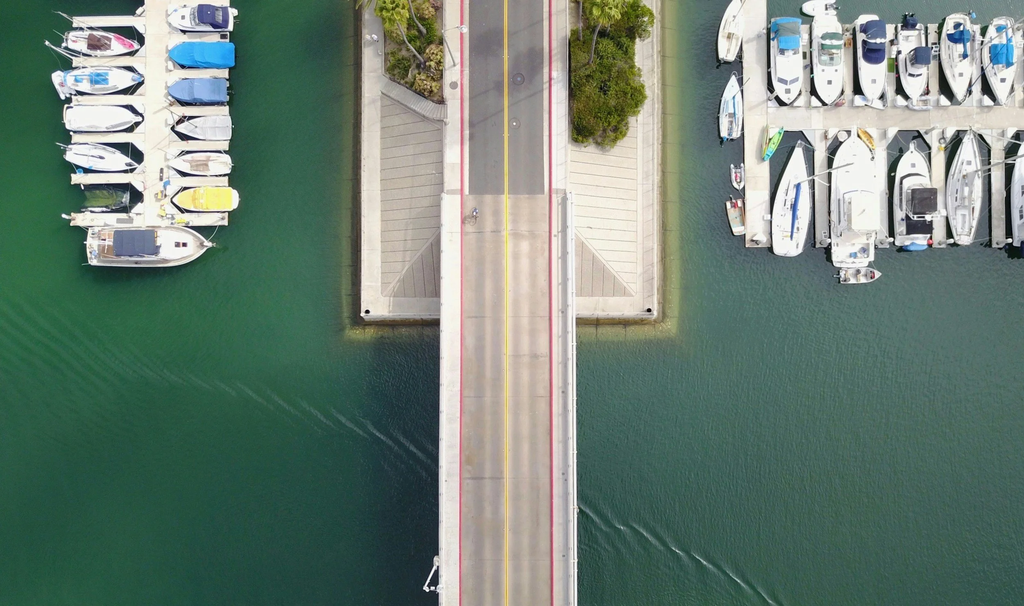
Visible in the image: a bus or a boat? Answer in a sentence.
The image shows a boat.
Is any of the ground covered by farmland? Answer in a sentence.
No, farmland can't be seen anywhere here.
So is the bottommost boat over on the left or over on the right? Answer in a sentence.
The bottommost boat appears in the right half of the scene.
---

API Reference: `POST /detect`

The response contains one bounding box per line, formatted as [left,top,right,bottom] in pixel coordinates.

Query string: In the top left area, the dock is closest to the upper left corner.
[70,0,229,226]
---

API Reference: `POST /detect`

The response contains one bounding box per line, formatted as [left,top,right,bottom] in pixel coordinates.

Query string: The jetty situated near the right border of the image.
[743,0,1024,248]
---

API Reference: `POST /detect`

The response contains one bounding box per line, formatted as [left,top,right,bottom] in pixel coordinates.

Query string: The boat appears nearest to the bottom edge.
[837,262,881,284]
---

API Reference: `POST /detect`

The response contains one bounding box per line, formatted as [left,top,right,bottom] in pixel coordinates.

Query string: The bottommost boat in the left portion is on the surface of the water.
[81,225,219,267]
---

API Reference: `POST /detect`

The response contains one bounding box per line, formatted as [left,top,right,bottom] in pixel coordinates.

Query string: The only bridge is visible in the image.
[437,192,580,606]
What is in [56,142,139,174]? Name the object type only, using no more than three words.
boat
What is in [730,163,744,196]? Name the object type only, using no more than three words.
boat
